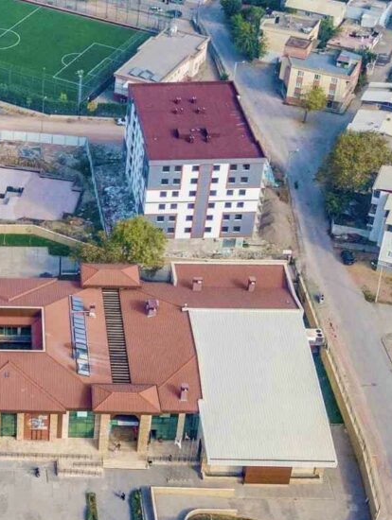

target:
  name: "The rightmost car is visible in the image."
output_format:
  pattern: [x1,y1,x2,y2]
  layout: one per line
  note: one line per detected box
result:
[367,252,379,267]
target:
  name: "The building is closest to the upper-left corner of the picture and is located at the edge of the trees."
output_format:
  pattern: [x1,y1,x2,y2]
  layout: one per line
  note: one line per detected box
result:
[113,28,208,100]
